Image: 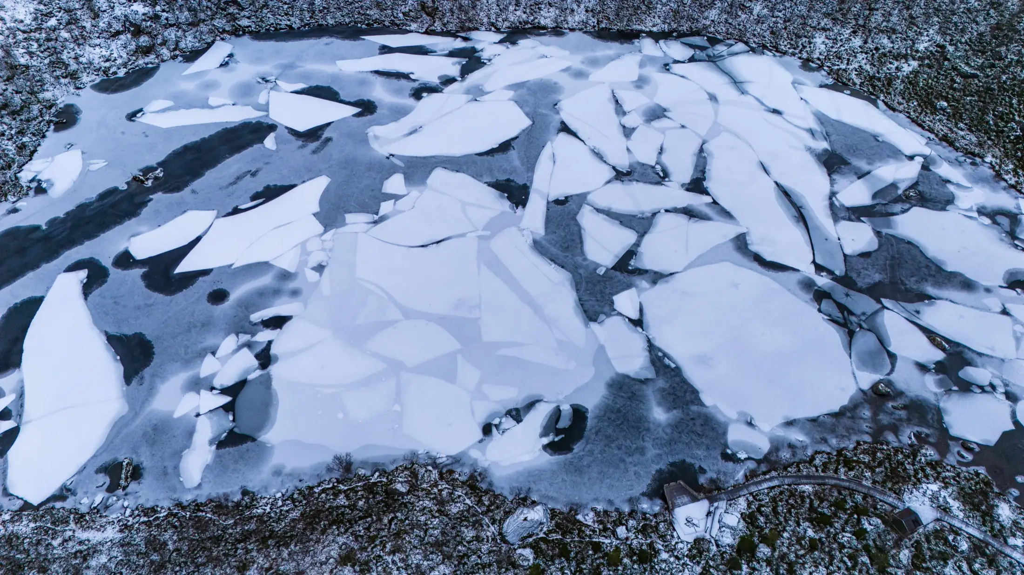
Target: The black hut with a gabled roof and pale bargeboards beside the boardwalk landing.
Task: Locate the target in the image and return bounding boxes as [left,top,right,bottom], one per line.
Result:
[886,508,924,538]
